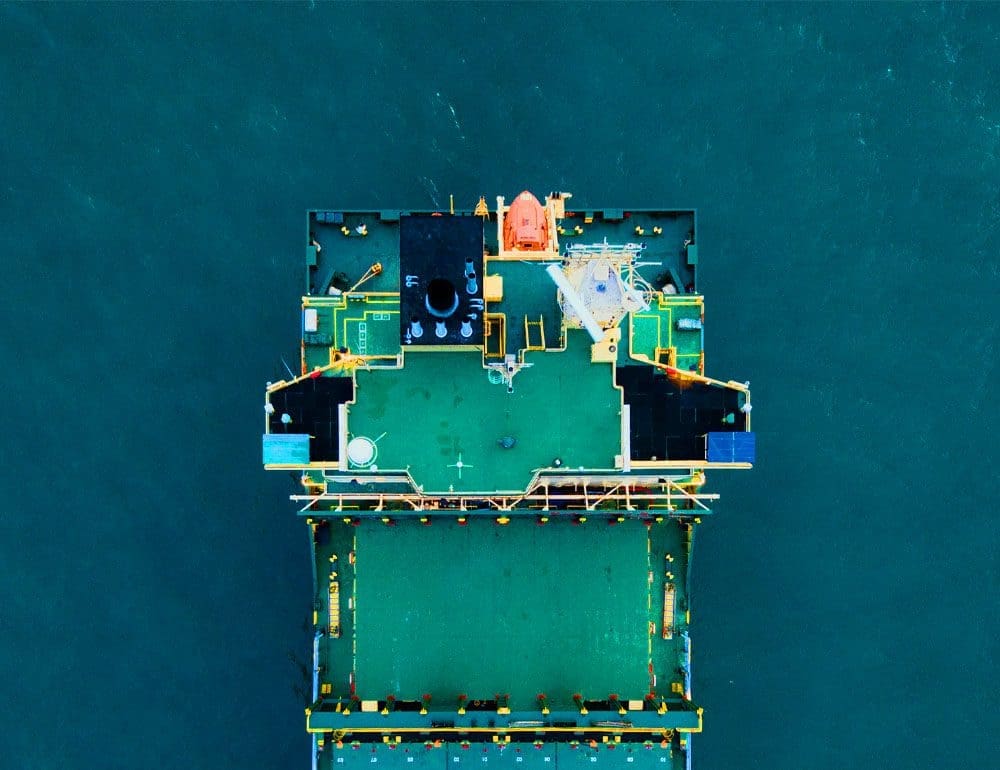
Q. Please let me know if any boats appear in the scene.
Yes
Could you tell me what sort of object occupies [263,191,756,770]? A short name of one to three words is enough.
ship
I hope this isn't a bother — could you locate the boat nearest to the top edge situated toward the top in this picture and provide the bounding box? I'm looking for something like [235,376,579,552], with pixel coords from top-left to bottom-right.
[505,190,548,254]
